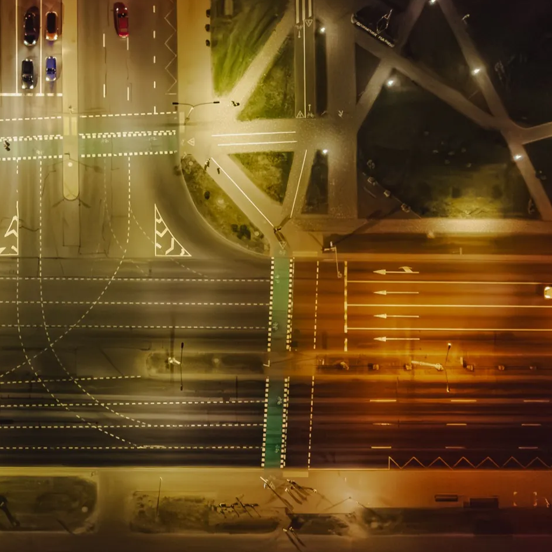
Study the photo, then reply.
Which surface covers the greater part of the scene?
paved ground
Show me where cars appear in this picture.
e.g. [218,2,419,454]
[23,7,38,42]
[114,2,129,36]
[44,9,58,40]
[21,58,35,89]
[44,55,58,81]
[542,286,552,299]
